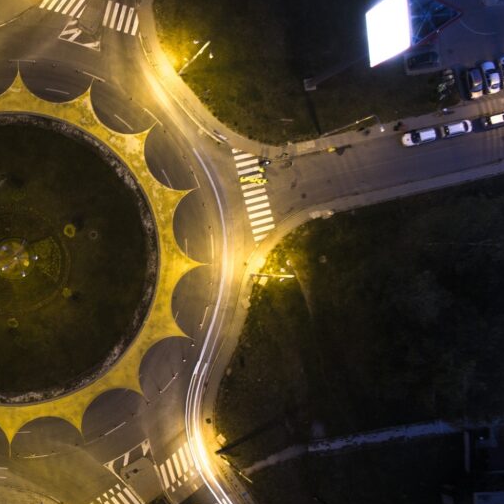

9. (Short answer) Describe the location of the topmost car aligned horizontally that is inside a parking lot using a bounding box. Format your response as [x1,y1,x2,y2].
[407,51,439,67]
